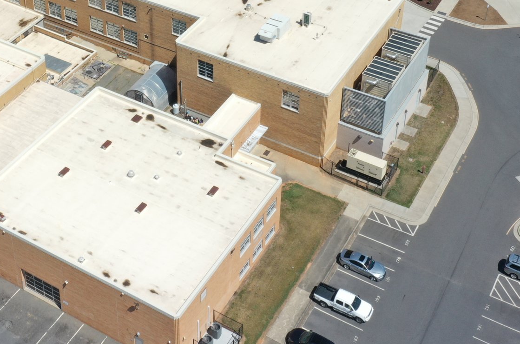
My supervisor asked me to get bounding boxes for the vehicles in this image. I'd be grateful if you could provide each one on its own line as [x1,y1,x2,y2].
[336,250,388,285]
[504,257,520,285]
[285,326,338,344]
[308,283,374,328]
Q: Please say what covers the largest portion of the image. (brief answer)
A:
buildings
